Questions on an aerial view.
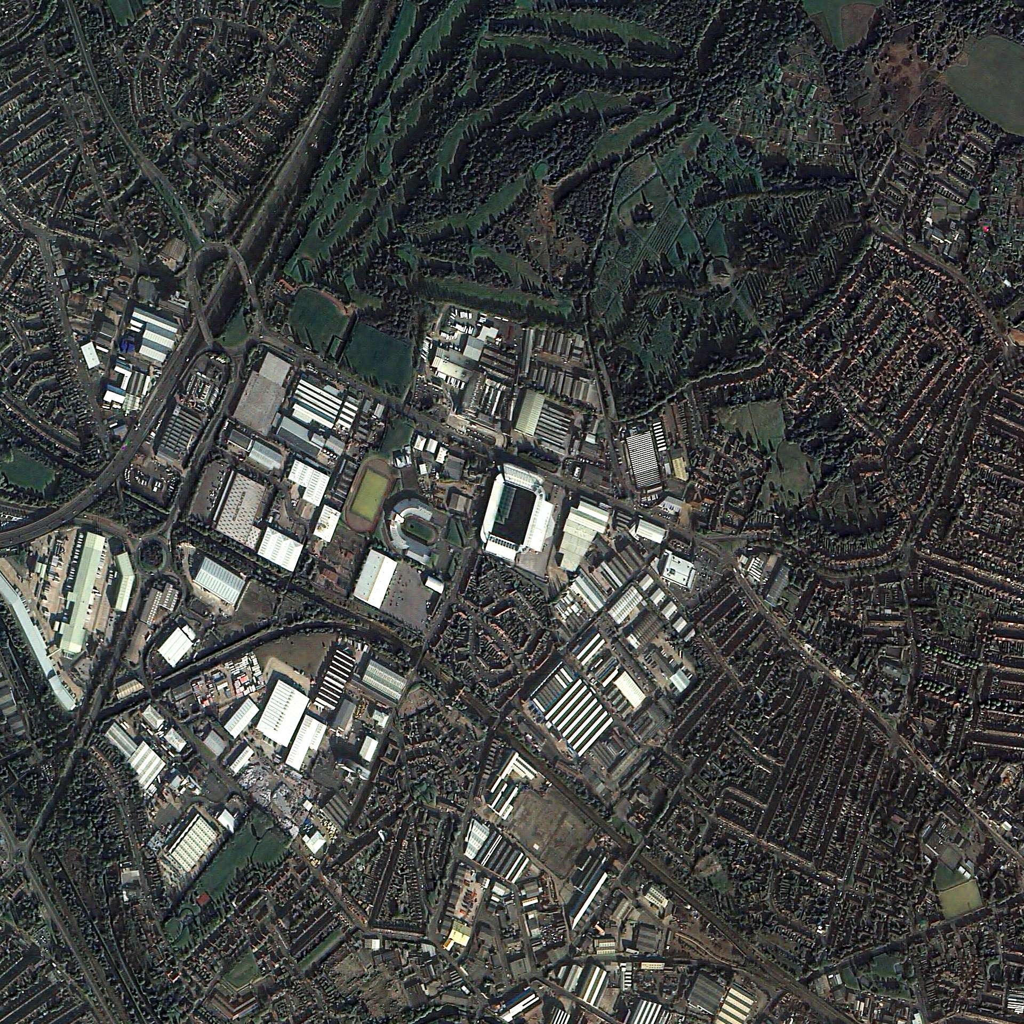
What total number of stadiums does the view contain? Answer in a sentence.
I count 2 stadiums.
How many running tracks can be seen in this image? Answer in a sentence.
Only 1 running track is visible.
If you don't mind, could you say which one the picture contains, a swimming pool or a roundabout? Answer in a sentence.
Looking from above, you can make out a roundabout.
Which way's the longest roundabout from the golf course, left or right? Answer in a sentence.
To the left of the golf course is where the longest roundabout appears.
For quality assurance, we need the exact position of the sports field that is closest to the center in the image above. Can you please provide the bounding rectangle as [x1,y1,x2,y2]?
[493,490,534,545]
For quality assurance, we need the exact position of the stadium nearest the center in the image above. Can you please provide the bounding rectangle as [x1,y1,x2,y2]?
[480,464,555,561]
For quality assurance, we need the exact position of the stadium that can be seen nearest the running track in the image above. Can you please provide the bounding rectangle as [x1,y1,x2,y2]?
[382,498,454,564]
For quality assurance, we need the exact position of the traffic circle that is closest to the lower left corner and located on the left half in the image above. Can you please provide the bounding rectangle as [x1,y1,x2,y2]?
[134,536,170,573]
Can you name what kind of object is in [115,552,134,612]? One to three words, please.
building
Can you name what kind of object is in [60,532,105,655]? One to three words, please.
shed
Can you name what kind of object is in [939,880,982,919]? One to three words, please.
sports field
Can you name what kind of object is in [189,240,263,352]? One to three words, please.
roundabout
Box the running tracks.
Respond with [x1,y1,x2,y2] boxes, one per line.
[343,454,394,532]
